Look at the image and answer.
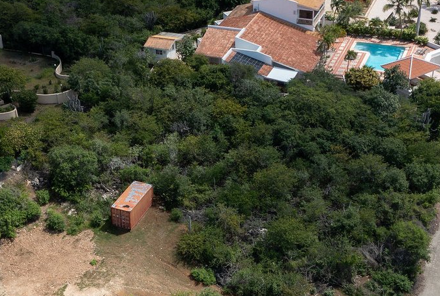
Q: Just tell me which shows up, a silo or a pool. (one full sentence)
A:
It is a pool that can be seen here.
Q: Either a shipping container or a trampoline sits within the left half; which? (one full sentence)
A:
The one visible within the left half is a shipping container.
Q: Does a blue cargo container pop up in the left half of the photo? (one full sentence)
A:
No, I see no blue cargo container in the left half of the photo.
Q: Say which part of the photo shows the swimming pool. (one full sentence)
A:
The swimming pool is located in the top right region of the scene.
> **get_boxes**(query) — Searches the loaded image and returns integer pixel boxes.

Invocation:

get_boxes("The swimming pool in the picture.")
[353,43,404,69]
